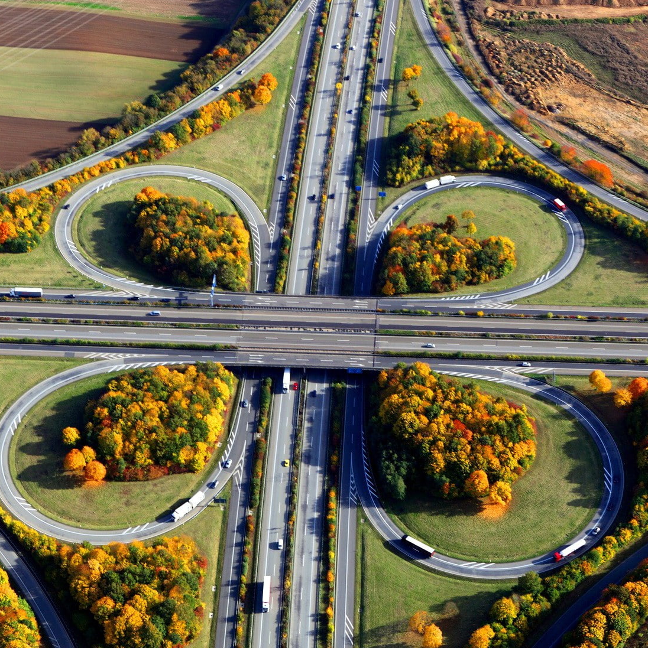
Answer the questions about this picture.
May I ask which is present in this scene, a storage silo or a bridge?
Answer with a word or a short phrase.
bridge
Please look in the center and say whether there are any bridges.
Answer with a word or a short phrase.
Yes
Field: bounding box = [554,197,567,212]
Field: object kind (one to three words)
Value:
vehicle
